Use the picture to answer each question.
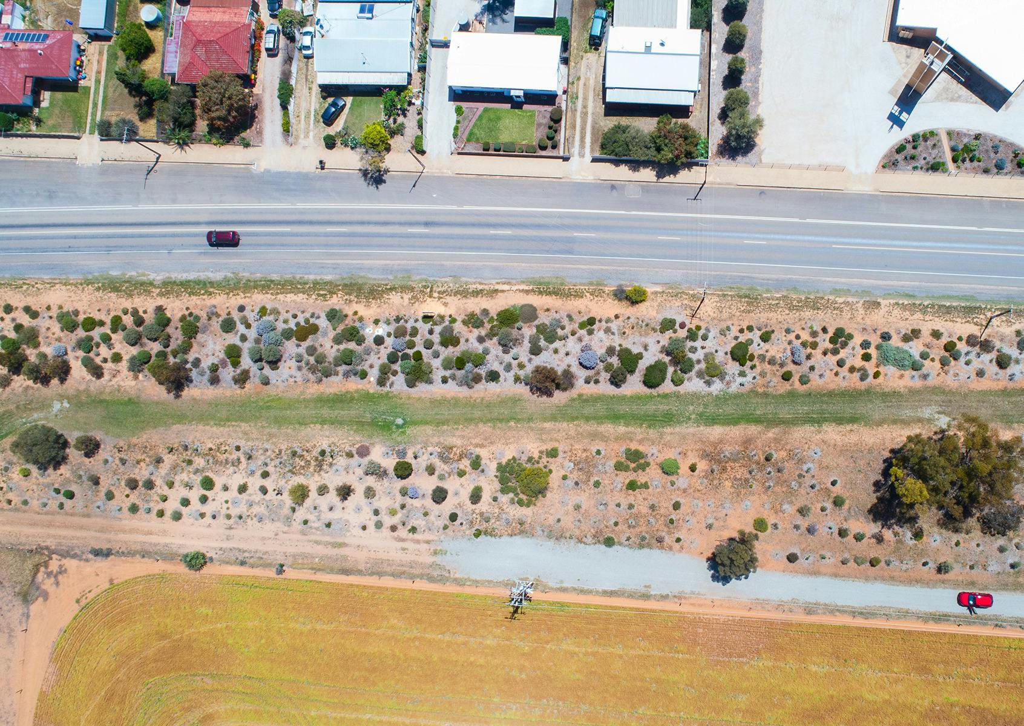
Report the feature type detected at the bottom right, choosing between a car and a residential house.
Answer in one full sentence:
What appears at the bottom right is a car.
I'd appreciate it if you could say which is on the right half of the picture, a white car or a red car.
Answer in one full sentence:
It is a red car that can be seen on the right half of the picture.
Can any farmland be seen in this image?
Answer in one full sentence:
Yes, there's farmland in this view.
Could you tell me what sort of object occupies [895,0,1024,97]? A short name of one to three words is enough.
building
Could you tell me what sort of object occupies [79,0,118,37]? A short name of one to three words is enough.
shed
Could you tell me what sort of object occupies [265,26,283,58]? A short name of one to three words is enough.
car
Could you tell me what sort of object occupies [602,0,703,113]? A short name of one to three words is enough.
house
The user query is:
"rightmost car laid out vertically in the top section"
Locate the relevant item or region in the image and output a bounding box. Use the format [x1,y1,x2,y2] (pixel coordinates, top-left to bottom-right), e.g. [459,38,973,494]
[590,10,609,48]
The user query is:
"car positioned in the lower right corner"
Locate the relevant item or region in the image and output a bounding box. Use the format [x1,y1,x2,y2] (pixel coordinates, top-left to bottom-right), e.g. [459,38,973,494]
[957,592,992,614]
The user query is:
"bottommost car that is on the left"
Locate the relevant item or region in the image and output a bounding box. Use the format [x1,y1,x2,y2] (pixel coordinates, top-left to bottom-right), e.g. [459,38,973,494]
[208,231,241,247]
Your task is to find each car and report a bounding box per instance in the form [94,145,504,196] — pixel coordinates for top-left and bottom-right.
[300,28,315,60]
[265,0,283,15]
[590,10,609,48]
[957,592,992,614]
[323,99,348,128]
[265,26,283,58]
[208,231,241,247]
